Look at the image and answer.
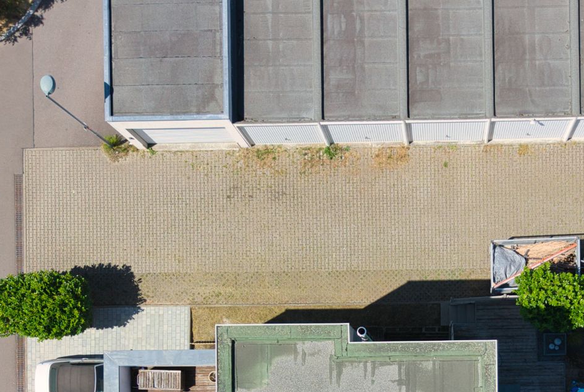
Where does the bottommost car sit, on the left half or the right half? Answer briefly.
left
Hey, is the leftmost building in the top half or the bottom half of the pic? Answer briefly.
top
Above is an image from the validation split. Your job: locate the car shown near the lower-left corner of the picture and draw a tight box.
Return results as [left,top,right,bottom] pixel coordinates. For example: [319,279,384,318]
[35,349,104,392]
